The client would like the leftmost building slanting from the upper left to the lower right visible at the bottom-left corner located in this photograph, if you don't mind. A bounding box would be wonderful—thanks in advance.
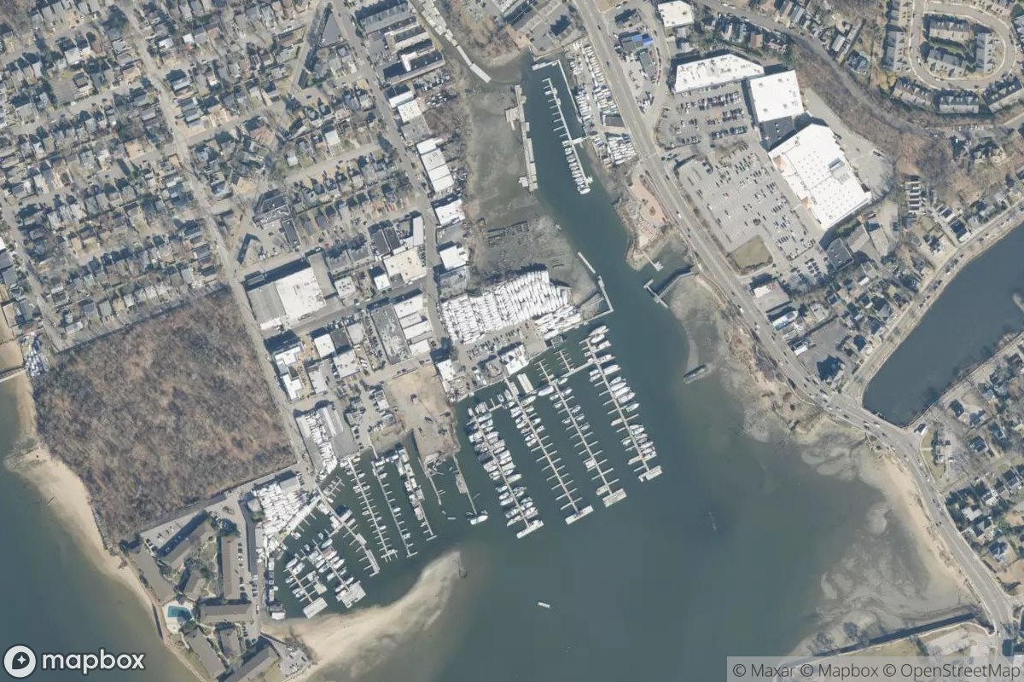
[132,545,176,605]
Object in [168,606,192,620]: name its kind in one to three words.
swimming pool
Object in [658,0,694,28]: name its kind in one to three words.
building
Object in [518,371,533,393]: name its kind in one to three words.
ship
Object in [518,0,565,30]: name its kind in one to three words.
building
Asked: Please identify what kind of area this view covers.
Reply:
residential area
